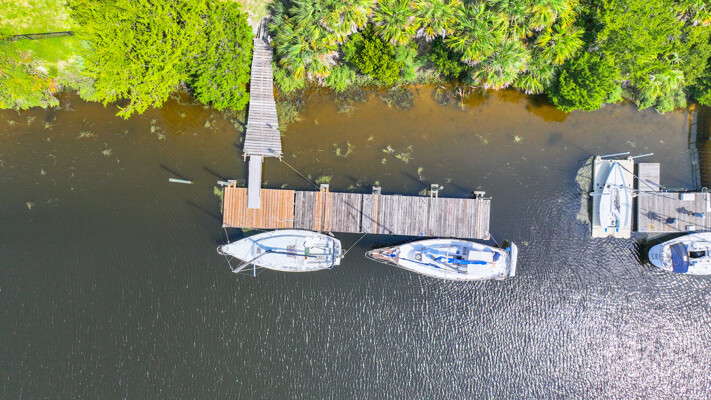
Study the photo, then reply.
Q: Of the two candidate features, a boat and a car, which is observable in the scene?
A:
boat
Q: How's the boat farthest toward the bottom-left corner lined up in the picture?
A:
from left to right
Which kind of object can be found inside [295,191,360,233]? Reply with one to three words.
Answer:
pier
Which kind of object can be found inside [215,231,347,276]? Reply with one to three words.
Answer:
boat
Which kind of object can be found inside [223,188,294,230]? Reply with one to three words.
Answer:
pier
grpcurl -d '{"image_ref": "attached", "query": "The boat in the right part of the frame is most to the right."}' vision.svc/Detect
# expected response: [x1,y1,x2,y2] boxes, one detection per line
[644,231,711,276]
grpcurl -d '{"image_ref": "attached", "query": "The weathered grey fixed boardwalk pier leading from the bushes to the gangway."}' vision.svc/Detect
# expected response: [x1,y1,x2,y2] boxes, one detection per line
[242,38,285,162]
